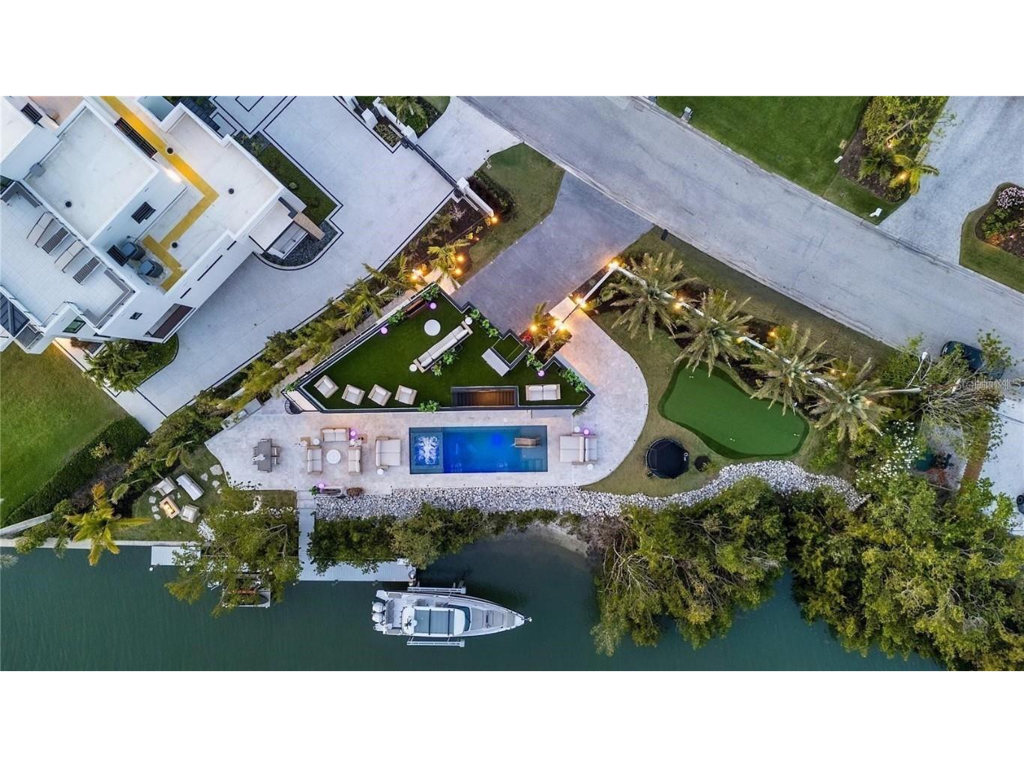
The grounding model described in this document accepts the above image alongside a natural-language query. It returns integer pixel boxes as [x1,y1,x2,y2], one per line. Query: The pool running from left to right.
[409,427,548,473]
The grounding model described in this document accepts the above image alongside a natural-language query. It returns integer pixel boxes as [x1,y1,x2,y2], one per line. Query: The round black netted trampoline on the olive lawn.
[644,437,691,481]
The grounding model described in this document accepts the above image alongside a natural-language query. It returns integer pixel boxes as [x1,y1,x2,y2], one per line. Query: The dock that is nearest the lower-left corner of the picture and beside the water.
[148,546,268,575]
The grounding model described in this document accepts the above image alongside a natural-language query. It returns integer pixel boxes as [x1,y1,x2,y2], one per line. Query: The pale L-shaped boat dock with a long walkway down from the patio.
[291,507,418,588]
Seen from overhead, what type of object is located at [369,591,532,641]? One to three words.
boat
